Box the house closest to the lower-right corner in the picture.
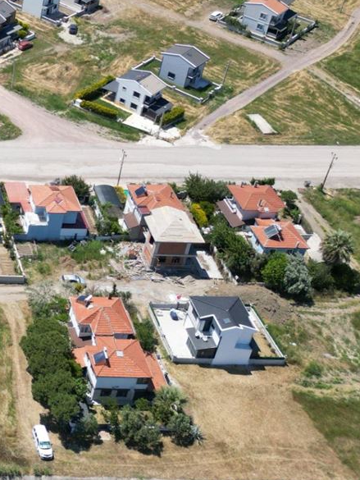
[182,288,265,365]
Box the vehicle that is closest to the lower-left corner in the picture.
[29,422,58,463]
